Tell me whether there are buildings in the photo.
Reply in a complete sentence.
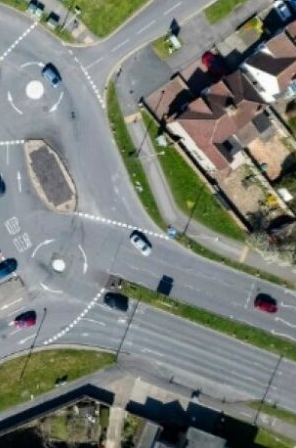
Yes, there is a building in the image.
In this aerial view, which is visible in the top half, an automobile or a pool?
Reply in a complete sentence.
You can see an automobile in the top half.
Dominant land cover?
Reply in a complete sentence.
What you mostly see from above here is paved ground.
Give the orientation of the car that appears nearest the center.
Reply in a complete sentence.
The car that appears nearest the center is laid out diagonally.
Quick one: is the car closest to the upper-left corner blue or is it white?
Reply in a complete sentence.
In this view, the car closest to the upper-left corner is blue.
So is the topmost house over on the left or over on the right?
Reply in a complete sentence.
The topmost house appears in the right half of the scene.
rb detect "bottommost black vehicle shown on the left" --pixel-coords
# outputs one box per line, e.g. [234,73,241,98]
[104,296,131,312]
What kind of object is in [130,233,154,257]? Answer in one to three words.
car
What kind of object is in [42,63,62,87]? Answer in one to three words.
car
